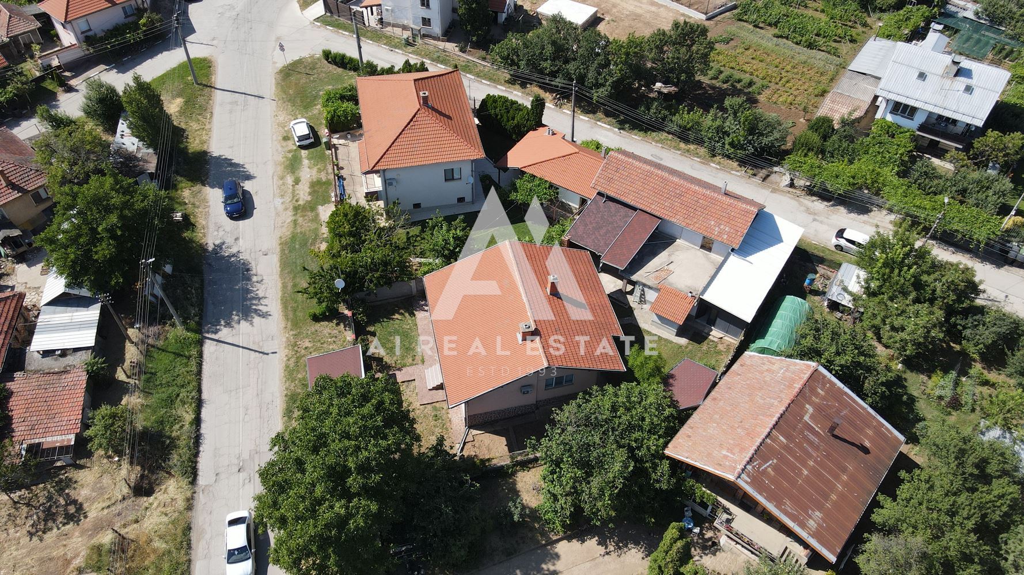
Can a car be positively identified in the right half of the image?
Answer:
Yes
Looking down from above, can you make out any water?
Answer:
No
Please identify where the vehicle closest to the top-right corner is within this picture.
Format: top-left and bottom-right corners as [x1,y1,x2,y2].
[834,230,882,262]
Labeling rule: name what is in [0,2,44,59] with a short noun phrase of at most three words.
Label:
house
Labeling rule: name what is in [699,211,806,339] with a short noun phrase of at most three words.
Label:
building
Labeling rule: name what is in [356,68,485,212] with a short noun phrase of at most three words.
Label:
house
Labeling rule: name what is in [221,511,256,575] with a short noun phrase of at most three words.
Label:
car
